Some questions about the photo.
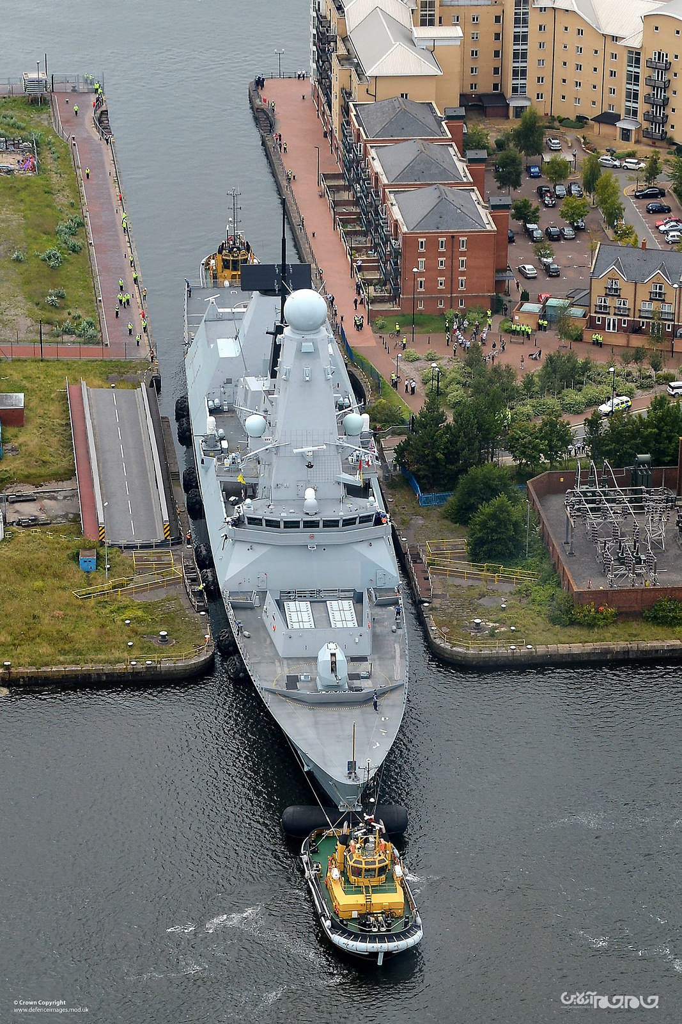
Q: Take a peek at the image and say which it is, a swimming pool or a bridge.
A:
bridge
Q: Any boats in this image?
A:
Yes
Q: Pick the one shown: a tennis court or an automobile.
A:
automobile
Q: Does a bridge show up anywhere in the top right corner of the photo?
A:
No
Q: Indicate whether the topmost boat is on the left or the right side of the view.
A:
left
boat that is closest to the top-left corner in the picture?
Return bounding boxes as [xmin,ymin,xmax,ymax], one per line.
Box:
[199,167,271,288]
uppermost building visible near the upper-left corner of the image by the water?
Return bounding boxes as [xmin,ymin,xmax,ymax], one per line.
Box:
[21,69,50,101]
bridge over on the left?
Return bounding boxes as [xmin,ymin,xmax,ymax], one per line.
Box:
[67,376,184,559]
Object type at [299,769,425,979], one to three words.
boat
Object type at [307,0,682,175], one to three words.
building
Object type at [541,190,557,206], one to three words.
car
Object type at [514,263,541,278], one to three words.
car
